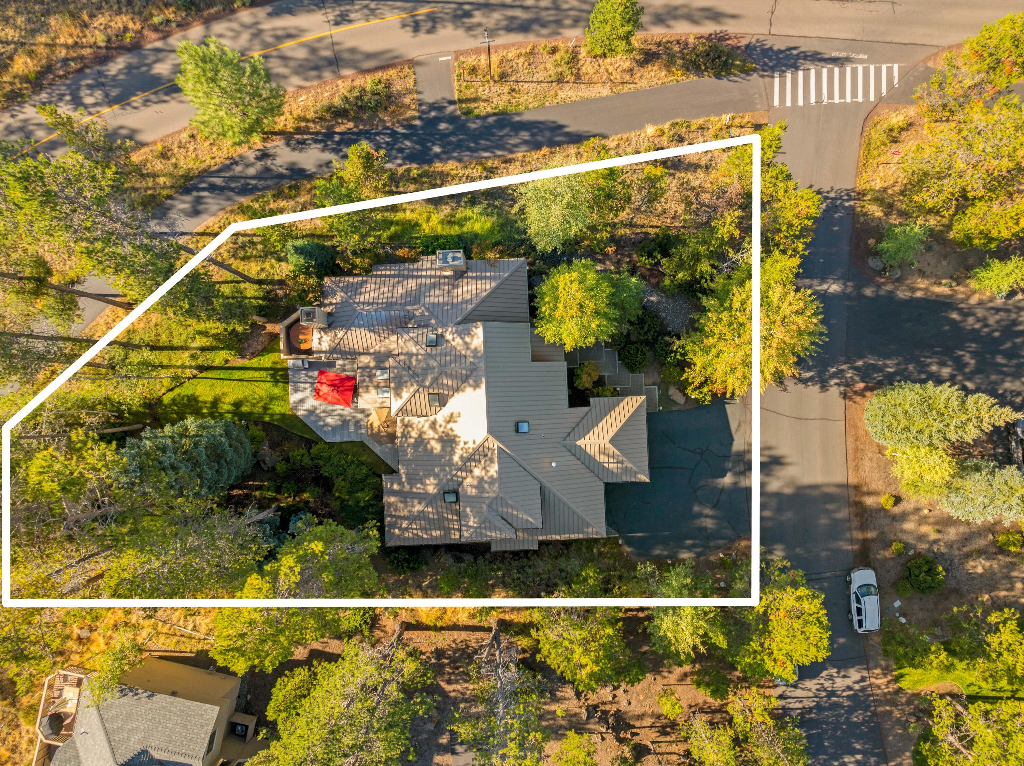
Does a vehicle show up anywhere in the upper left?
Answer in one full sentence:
No, no vehicle appears in the upper left.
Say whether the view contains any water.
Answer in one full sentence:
No, there's no water in this view.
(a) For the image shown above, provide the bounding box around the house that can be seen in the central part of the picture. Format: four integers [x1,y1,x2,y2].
[299,249,652,553]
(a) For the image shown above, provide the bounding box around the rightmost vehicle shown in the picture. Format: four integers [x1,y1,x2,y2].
[848,567,884,636]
